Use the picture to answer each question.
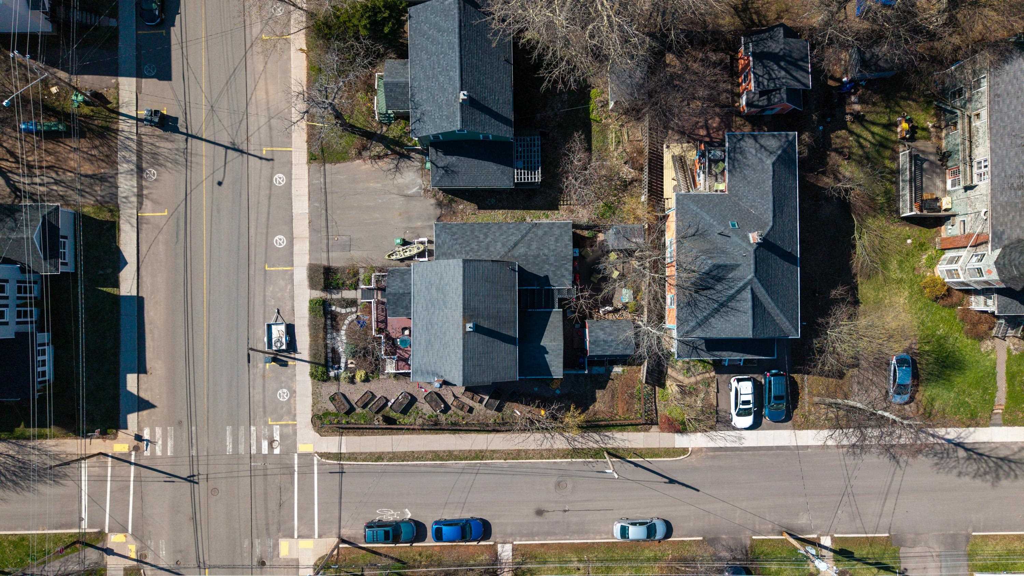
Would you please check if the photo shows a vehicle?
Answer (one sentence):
Yes, looking at the shot, I can spot a vehicle.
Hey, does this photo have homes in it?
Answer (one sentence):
Yes, the frame does contain a home.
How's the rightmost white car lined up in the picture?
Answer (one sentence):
The rightmost white car runs up and down in the image.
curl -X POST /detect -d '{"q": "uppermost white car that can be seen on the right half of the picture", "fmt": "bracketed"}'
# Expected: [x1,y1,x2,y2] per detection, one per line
[730,374,759,430]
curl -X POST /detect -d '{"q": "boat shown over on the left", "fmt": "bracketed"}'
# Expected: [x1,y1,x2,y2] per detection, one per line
[387,242,427,260]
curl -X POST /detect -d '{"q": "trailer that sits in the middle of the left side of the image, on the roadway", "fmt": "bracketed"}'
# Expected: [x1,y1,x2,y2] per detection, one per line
[261,308,288,349]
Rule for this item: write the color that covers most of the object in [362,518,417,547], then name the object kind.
blue car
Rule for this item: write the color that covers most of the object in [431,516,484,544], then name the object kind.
blue car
